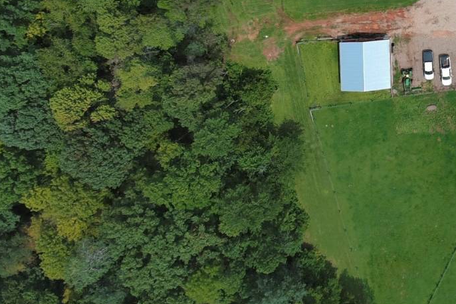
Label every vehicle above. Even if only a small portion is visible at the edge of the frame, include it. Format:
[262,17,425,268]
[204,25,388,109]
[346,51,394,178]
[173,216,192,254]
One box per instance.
[401,67,412,90]
[439,53,453,86]
[422,48,435,81]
